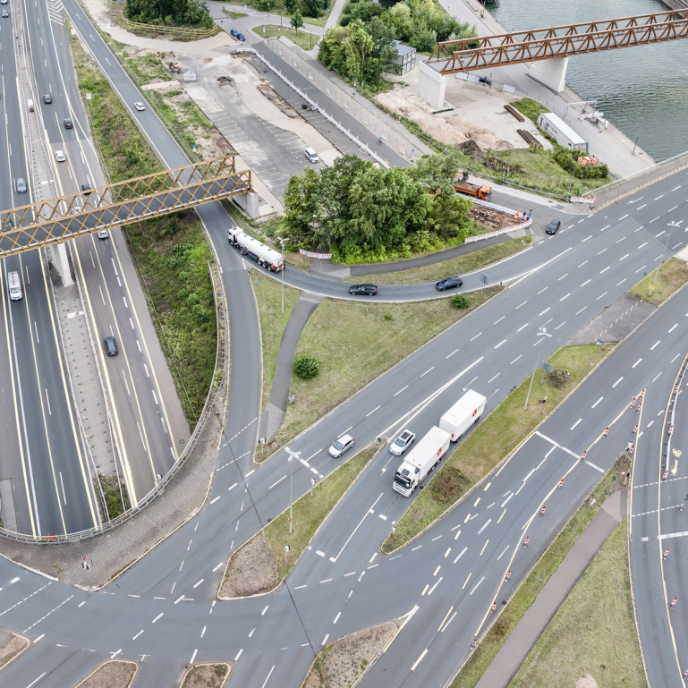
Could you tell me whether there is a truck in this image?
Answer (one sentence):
Yes, this view includes a truck.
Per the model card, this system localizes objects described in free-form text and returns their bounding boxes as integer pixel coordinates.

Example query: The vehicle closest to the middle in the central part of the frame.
[348,280,379,295]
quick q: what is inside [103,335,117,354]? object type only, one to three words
vehicle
